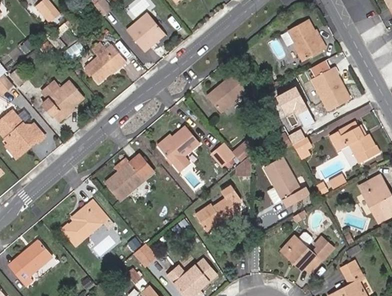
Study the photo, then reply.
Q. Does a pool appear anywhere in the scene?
Yes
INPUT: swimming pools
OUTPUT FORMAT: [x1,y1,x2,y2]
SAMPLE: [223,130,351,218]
[336,204,371,232]
[308,210,332,234]
[267,36,288,61]
[316,154,353,182]
[181,163,206,192]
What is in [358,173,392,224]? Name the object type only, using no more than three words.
house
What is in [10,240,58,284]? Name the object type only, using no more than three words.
house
